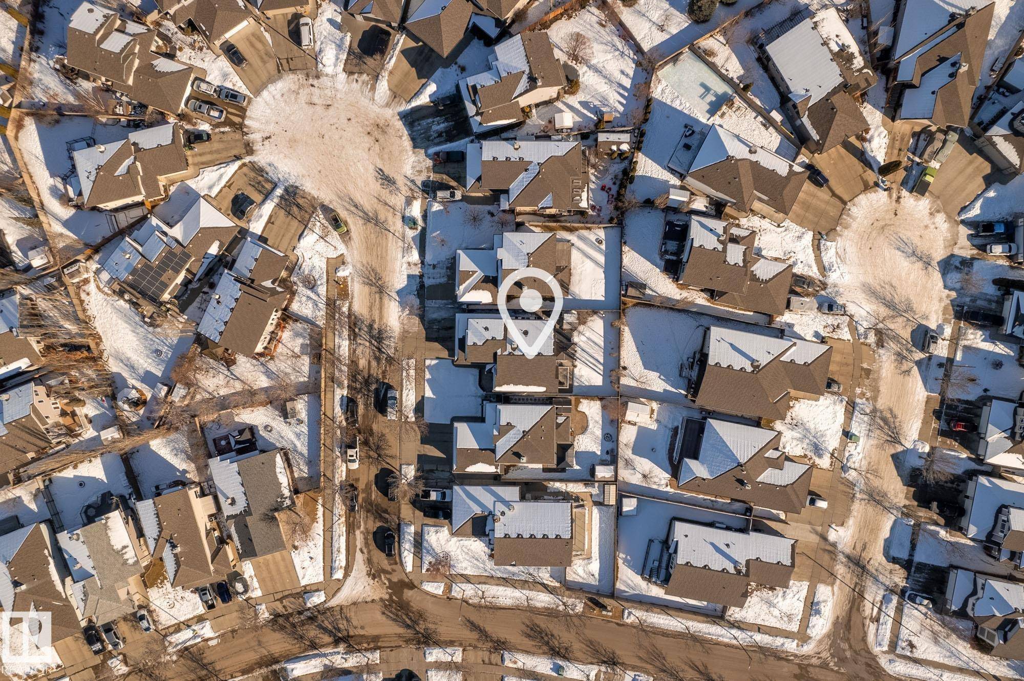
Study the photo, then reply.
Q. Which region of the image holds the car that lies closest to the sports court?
top right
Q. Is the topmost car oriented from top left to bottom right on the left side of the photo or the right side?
left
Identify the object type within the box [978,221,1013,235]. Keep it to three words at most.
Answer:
vehicle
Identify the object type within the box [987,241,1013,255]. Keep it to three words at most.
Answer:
car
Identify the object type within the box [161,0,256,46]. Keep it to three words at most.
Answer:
house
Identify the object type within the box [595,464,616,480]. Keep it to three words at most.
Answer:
shed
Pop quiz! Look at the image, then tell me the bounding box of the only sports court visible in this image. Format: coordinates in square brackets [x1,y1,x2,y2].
[657,49,734,122]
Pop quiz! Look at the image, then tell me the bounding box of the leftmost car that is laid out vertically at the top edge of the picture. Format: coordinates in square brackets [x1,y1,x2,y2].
[296,15,314,49]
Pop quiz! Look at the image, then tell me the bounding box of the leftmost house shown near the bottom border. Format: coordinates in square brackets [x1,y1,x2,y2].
[0,521,89,652]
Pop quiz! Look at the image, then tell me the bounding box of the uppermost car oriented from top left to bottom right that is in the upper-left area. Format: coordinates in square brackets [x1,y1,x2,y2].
[225,41,249,68]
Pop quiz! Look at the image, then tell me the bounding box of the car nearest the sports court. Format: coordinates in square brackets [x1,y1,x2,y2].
[807,163,831,187]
